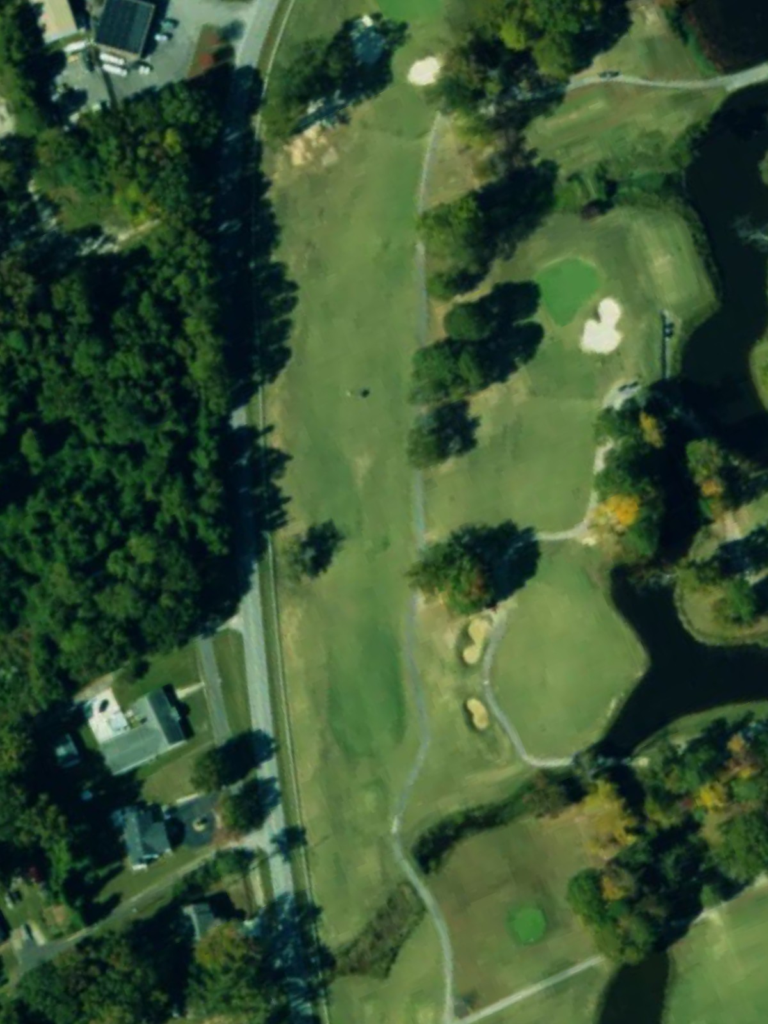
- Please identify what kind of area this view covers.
golf course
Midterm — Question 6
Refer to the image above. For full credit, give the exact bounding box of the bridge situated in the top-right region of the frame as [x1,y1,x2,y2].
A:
[721,64,768,90]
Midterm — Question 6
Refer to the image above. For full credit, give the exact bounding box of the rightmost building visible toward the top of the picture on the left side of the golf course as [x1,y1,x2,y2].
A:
[93,0,155,58]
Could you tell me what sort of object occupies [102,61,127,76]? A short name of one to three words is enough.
vehicle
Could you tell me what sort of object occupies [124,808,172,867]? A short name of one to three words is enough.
house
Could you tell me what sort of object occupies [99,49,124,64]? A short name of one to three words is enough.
vehicle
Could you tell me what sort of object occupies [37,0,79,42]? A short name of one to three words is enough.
building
